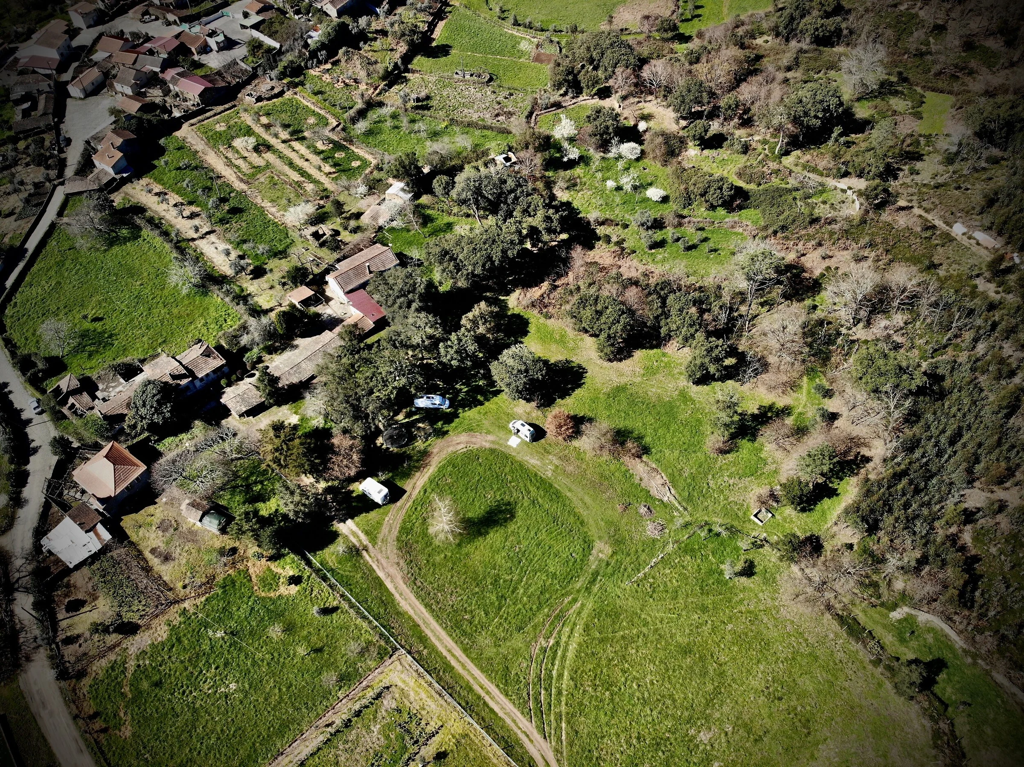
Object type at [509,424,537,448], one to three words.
vehicle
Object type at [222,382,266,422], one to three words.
shed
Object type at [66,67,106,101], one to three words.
house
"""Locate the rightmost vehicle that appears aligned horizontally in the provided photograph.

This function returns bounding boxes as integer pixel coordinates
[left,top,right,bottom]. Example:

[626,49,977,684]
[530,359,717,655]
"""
[414,395,448,411]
